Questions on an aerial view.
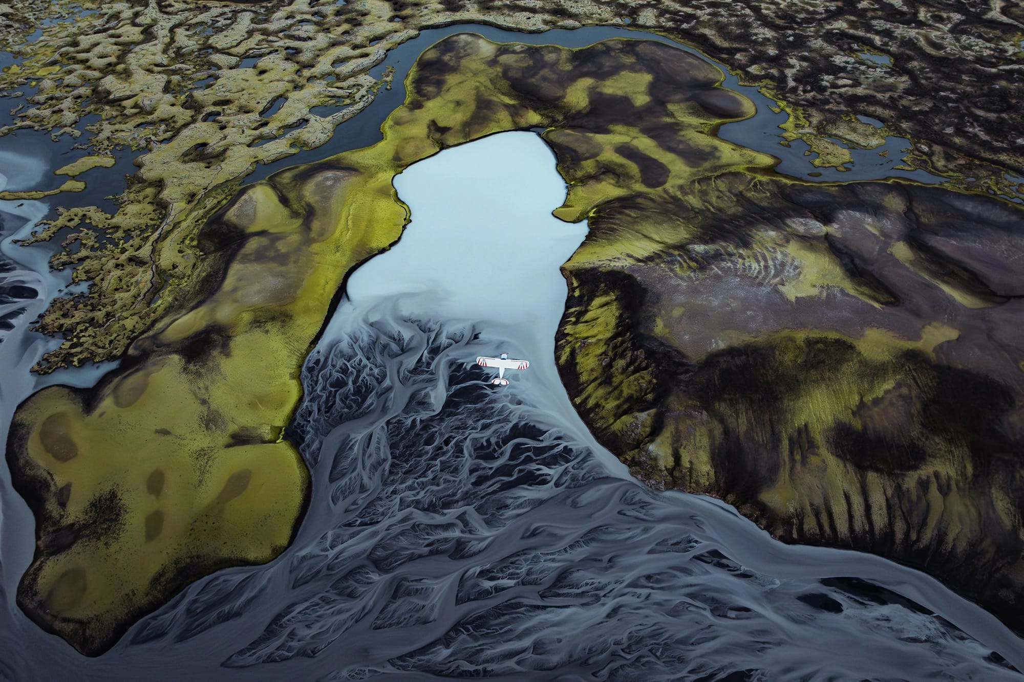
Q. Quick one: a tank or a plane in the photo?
plane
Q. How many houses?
0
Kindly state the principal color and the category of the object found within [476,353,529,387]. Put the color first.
white airplane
